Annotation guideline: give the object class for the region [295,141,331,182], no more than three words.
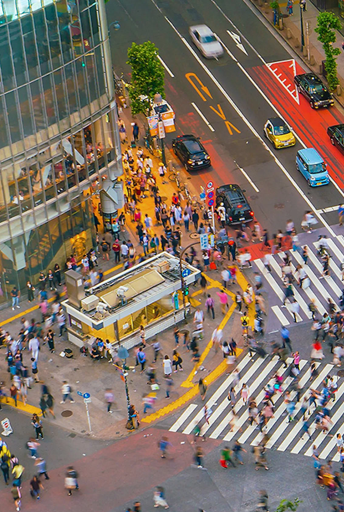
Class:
car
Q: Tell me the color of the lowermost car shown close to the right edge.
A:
blue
